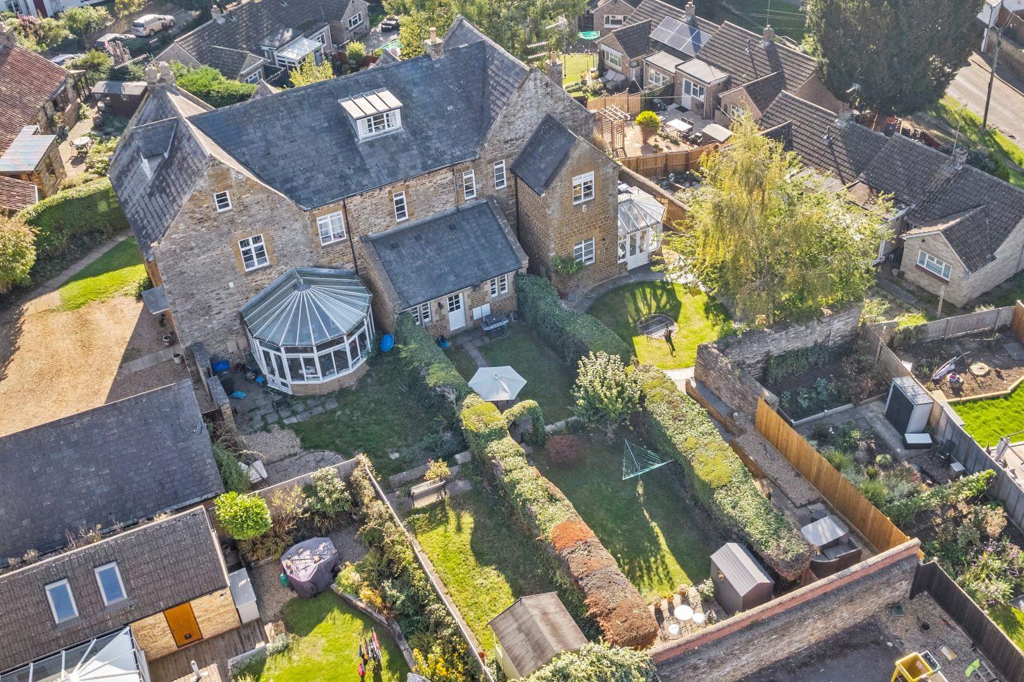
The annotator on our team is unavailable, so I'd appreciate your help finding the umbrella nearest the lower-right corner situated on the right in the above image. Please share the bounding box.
[939,356,958,386]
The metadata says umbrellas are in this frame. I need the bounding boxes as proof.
[466,366,529,406]
[939,356,958,386]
